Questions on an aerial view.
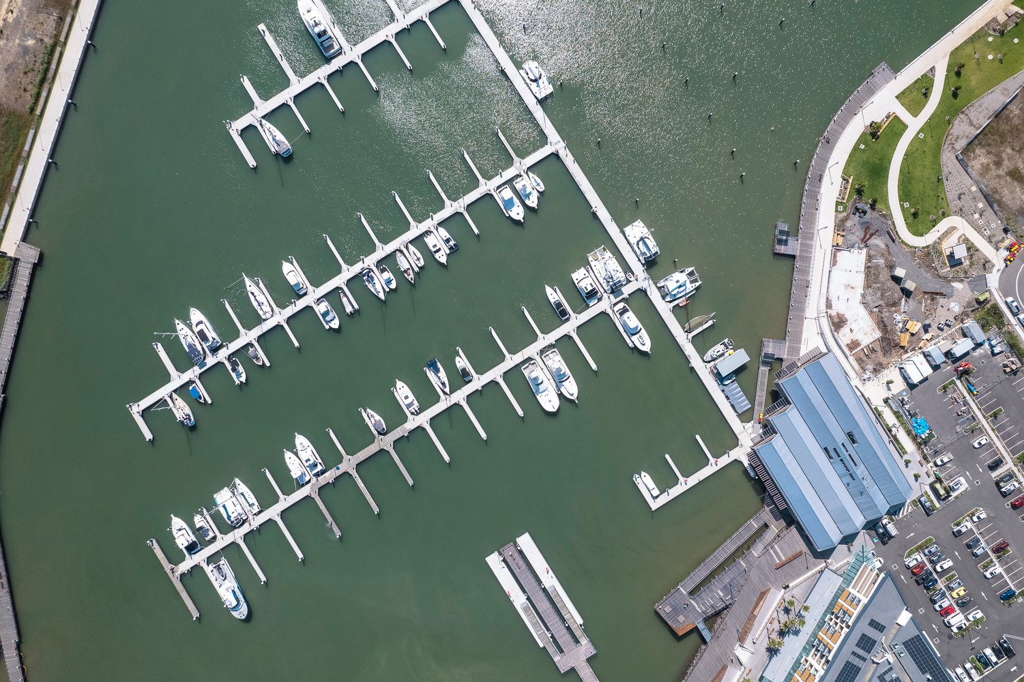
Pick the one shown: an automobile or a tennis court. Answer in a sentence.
Looking from above, you can make out an automobile.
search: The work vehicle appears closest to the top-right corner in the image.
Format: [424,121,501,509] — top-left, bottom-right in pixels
[853,200,879,216]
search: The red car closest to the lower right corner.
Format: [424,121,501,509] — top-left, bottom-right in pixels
[938,604,956,618]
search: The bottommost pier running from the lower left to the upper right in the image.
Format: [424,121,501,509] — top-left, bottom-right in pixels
[656,508,768,627]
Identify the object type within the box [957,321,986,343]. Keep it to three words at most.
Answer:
building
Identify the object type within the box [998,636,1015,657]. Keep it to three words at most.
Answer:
vehicle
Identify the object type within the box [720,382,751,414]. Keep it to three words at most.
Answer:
pier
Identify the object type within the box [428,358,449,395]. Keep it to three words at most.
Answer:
boat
